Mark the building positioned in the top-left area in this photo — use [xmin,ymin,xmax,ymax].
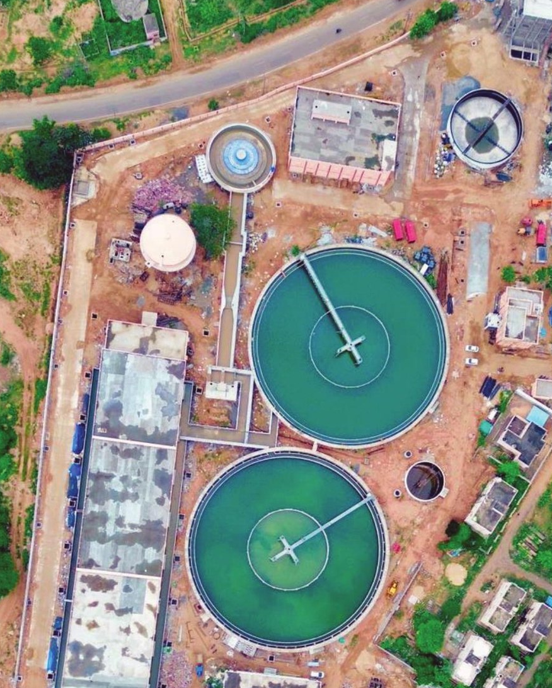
[143,13,159,41]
